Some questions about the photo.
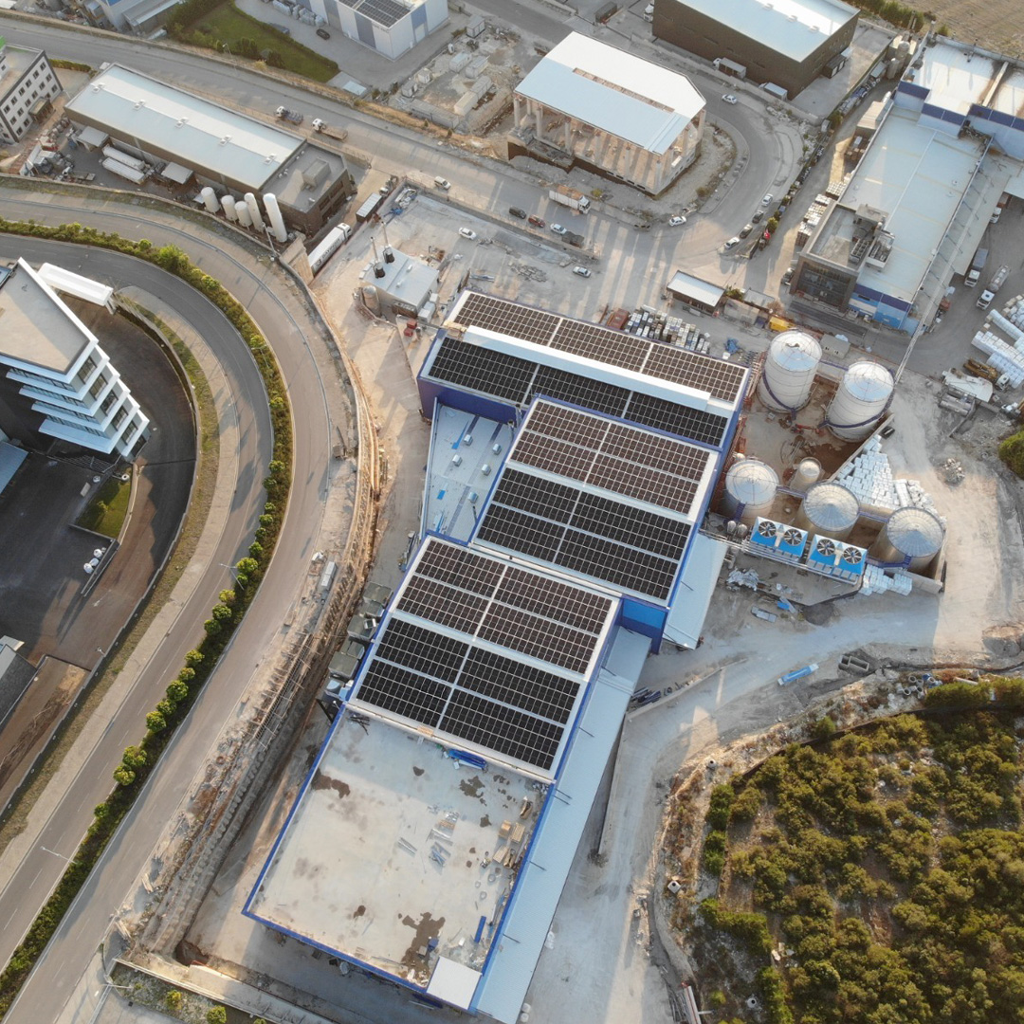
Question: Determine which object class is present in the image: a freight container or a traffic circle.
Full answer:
Visible in the photo is a freight container.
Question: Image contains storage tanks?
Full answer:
Yes, looking at the shot, I can spot a storage tank.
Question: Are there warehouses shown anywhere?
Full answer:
Yes, there's a warehouse down there.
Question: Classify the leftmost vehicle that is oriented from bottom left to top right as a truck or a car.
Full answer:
The leftmost vehicle that is oriented from bottom left to top right is a truck.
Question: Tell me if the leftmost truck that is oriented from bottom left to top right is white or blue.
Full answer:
The leftmost truck that is oriented from bottom left to top right is white.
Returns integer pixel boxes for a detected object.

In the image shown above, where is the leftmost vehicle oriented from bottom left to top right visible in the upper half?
[297,219,357,281]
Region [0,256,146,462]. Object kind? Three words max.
building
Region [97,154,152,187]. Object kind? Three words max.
trailer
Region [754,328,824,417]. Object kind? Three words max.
storage tank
